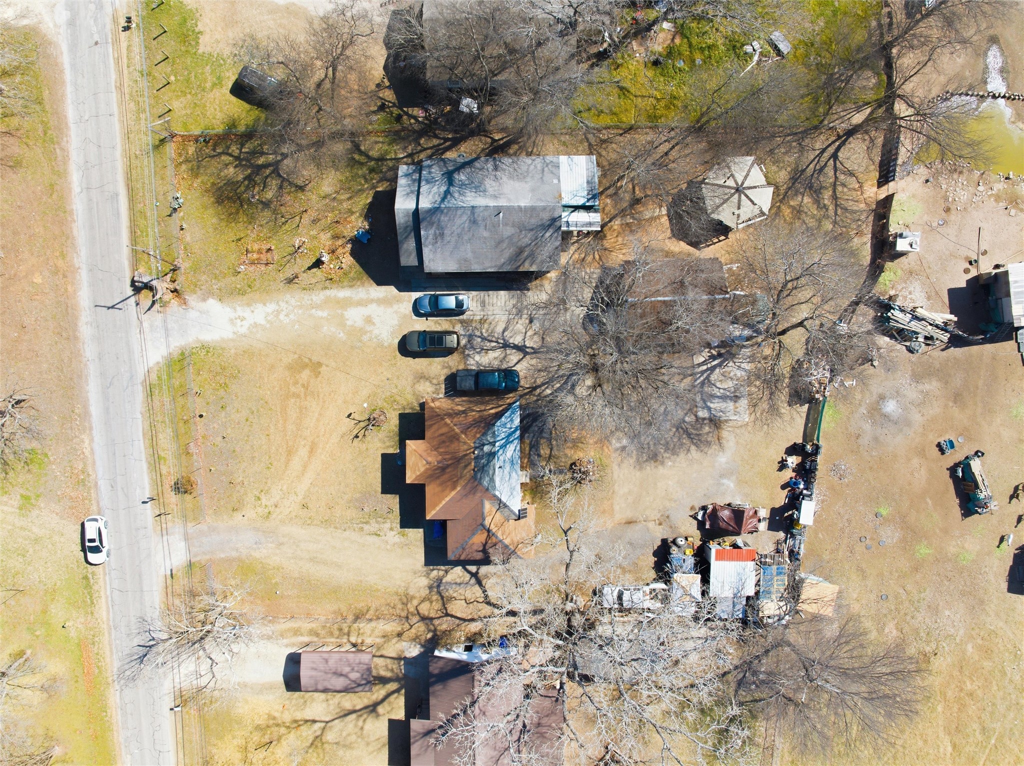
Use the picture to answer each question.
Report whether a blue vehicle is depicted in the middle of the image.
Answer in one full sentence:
Yes, a blue vehicle appears in the middle of the image.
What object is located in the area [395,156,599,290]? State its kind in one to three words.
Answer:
house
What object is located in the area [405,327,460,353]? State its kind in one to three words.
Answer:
car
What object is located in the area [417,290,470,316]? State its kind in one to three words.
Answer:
car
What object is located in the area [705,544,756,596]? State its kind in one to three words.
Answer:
shed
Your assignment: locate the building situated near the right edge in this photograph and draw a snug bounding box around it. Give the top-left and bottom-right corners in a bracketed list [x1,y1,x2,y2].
[950,262,1024,329]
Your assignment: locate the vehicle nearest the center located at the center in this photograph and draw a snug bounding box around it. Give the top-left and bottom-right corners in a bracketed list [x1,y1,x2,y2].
[456,366,520,394]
